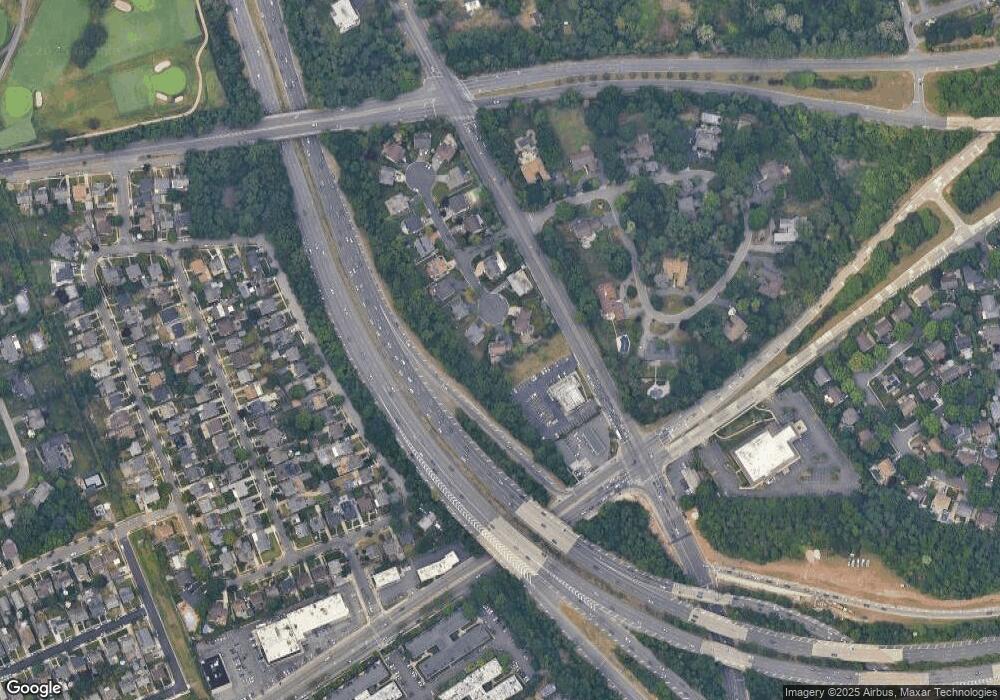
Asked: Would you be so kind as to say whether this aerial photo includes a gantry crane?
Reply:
No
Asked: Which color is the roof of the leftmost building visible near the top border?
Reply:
white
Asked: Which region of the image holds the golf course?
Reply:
top left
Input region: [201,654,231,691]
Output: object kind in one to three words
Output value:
building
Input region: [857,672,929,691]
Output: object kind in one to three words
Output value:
bridge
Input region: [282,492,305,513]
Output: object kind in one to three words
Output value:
house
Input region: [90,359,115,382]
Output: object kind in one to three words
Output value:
house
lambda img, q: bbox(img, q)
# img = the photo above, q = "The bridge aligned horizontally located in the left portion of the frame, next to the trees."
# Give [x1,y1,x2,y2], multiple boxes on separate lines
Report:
[264,108,321,139]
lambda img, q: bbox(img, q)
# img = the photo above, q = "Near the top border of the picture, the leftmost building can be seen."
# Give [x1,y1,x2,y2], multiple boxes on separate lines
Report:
[331,0,360,35]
